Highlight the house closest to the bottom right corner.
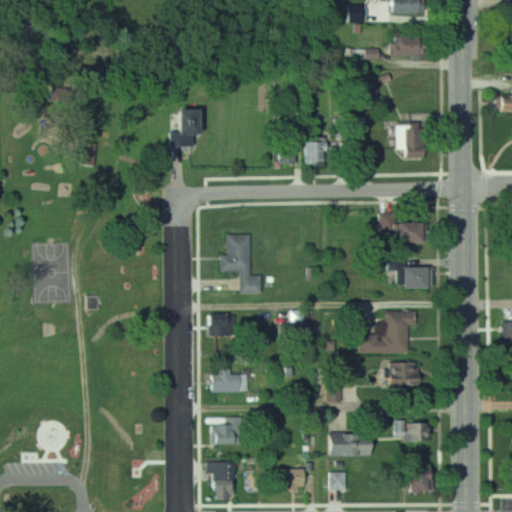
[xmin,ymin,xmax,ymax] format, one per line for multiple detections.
[408,466,436,492]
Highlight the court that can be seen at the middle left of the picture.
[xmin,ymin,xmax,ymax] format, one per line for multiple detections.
[32,243,70,302]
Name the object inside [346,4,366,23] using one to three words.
building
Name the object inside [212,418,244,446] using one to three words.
house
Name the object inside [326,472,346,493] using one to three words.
building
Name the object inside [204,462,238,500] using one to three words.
house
